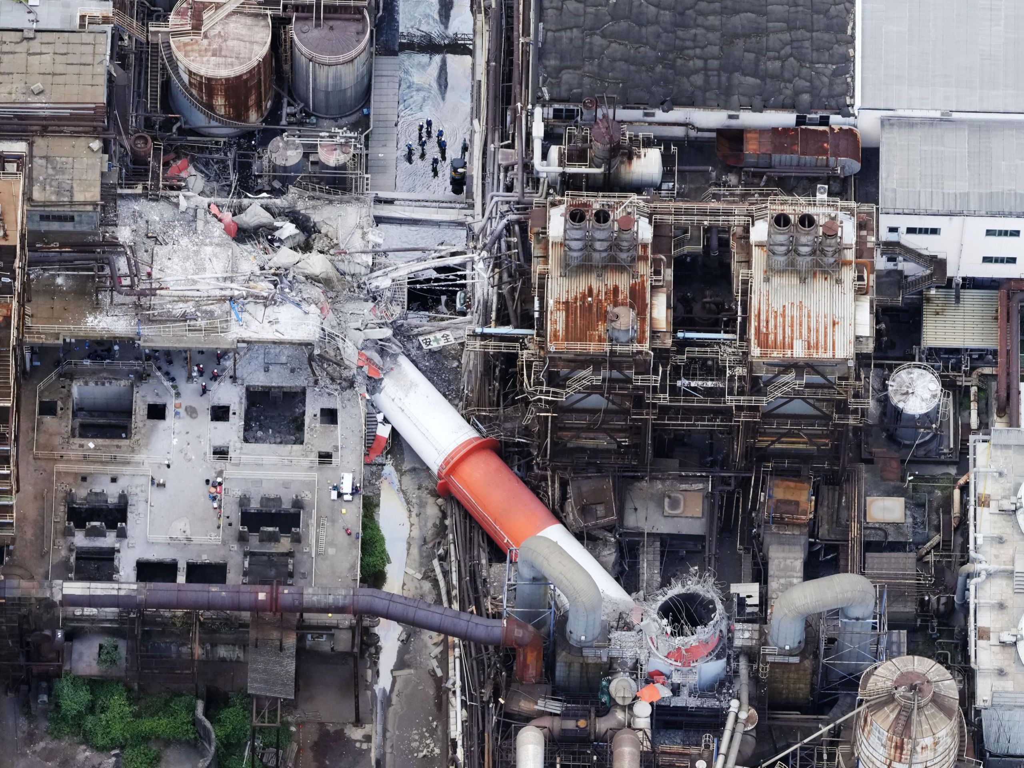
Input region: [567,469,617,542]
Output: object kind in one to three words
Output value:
building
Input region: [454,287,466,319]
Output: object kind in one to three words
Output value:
vehicle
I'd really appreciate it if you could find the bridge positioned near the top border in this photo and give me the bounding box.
[399,33,473,56]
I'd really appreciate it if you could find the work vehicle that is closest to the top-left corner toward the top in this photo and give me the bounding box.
[448,138,470,187]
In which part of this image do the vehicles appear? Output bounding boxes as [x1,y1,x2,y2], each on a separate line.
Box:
[454,287,466,319]
[448,138,470,187]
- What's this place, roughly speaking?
industrial area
